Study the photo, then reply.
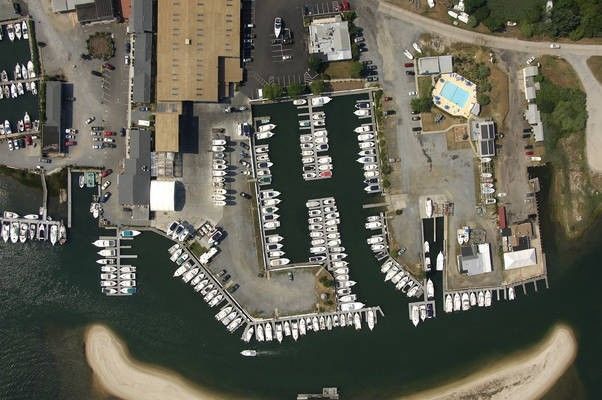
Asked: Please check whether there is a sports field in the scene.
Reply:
No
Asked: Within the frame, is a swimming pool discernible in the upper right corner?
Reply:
Yes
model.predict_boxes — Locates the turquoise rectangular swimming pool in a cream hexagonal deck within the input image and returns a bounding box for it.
[433,72,477,119]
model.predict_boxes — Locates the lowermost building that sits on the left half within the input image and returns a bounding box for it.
[122,205,149,225]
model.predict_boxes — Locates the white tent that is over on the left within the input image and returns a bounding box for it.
[149,181,175,211]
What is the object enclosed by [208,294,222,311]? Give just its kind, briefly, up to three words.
boat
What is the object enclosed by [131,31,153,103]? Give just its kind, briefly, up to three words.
building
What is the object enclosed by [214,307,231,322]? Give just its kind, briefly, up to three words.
boat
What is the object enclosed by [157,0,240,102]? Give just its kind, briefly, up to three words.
shed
